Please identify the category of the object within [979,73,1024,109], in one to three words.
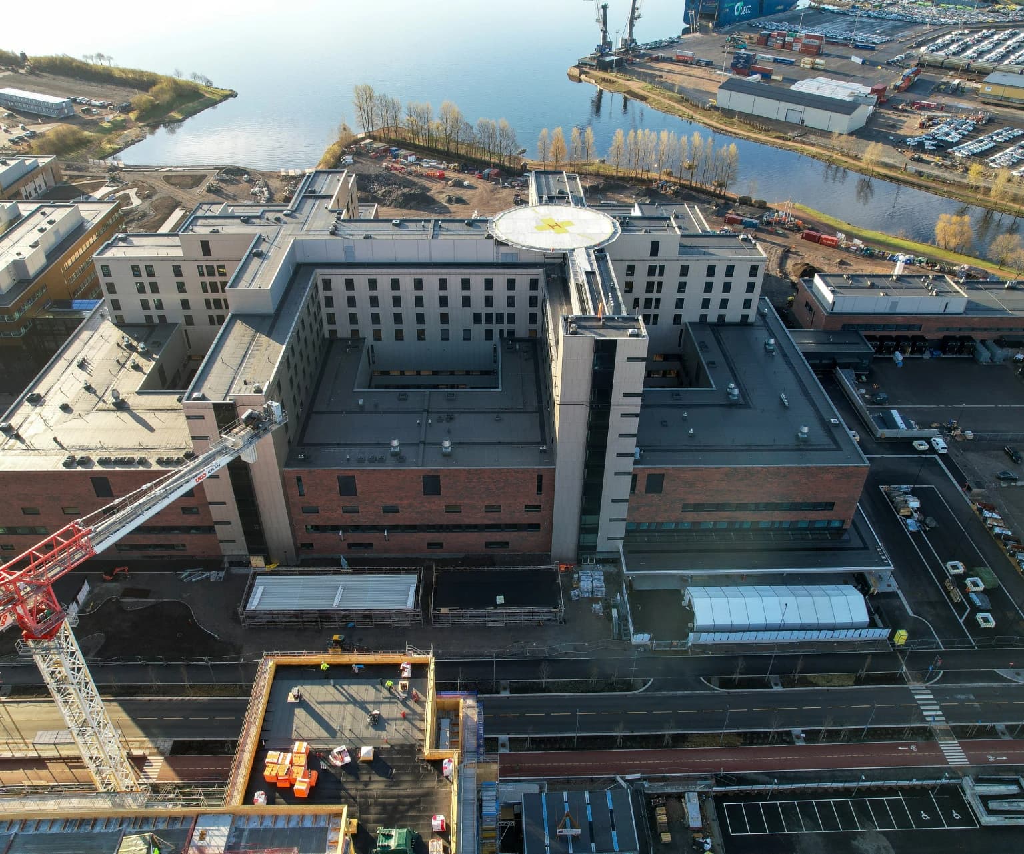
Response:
shed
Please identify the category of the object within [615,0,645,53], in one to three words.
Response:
crane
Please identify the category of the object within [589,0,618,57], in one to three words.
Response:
crane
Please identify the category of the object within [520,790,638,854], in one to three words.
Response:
building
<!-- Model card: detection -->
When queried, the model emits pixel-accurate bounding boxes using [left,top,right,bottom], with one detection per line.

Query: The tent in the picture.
[681,576,871,631]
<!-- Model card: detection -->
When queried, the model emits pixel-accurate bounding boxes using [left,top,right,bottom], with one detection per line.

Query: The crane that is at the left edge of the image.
[0,407,290,791]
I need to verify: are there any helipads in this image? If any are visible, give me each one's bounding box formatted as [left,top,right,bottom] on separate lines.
[488,205,619,301]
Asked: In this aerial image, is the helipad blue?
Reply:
No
